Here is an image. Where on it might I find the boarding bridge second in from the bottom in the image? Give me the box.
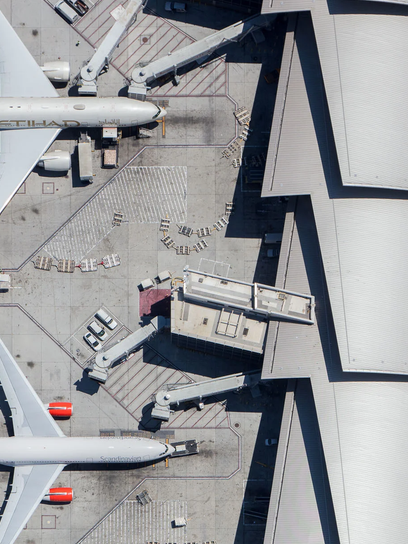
[86,313,171,386]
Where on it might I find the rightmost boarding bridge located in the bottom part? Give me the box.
[148,363,271,422]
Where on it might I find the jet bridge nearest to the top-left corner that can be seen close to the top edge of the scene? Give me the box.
[74,0,148,97]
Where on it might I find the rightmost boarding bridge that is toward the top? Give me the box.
[124,4,271,100]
